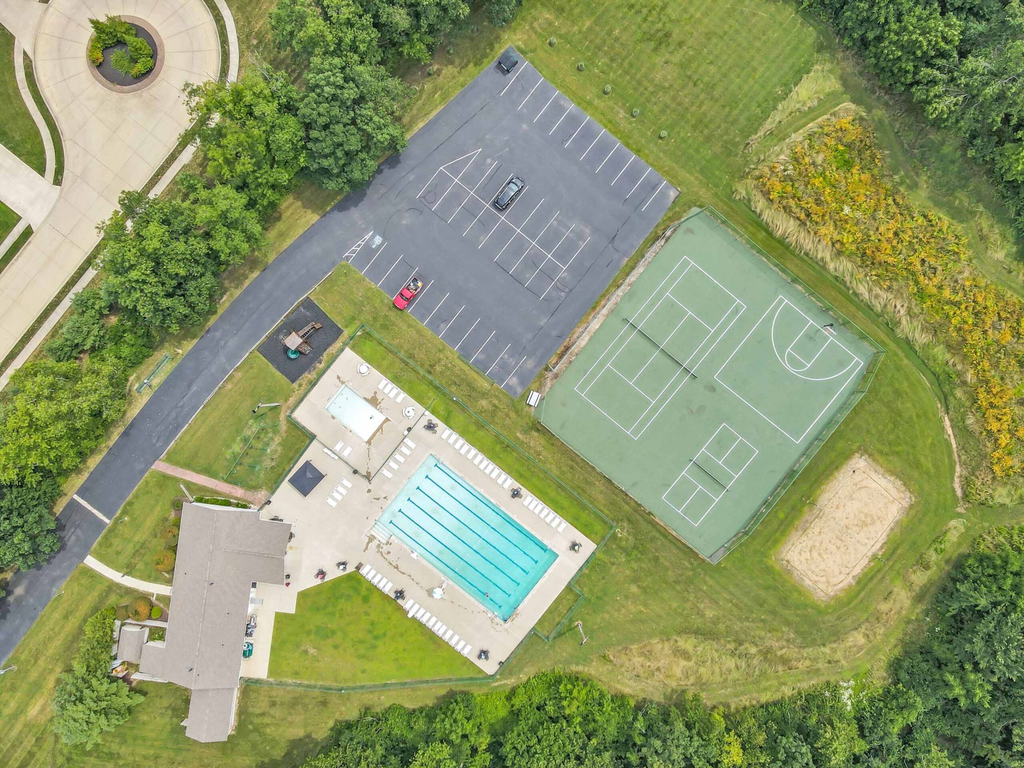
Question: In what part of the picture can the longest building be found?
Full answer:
Look in the bottom left portion of the view to spot the longest building.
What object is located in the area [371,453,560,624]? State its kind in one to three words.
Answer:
swimming pool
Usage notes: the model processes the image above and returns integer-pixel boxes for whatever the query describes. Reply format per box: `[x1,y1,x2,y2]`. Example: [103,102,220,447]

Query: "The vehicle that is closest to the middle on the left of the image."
[394,275,424,312]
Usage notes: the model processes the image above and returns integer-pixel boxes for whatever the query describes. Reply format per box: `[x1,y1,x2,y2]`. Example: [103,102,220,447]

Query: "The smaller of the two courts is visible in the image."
[777,451,917,605]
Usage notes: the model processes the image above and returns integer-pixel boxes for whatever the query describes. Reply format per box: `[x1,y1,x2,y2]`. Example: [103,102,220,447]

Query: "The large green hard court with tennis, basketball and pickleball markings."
[535,207,875,558]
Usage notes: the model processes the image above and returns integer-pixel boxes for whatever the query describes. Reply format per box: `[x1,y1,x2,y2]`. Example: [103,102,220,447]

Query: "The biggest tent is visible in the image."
[288,457,332,497]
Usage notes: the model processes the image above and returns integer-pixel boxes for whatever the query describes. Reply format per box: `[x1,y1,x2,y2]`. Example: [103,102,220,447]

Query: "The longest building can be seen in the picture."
[139,502,295,743]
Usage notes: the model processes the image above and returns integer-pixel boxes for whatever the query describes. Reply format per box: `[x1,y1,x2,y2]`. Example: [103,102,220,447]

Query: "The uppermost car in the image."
[497,46,522,75]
